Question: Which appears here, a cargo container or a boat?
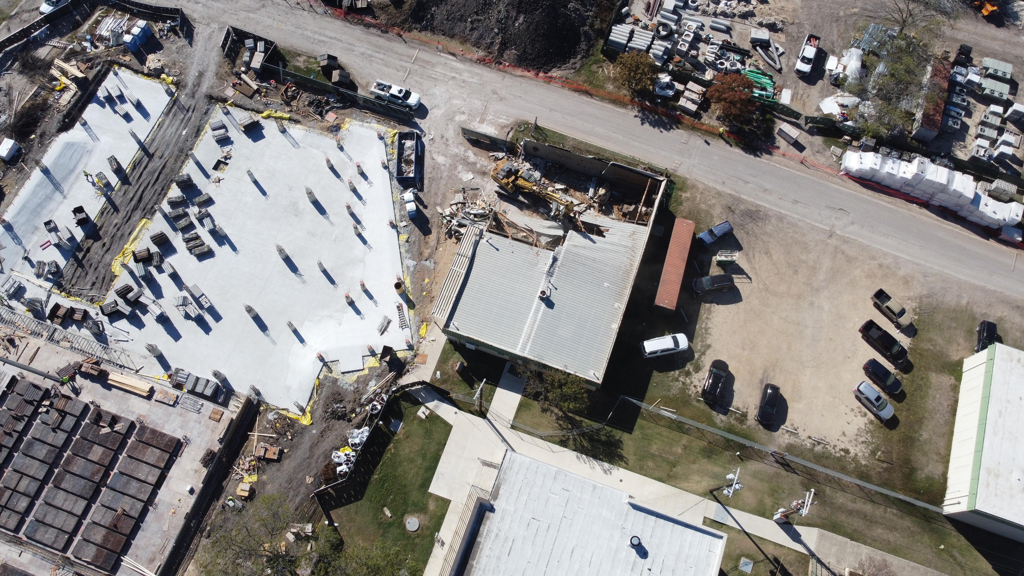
cargo container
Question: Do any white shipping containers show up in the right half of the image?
No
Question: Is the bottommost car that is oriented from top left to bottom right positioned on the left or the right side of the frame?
right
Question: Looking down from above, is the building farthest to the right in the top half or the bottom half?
bottom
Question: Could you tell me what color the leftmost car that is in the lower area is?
white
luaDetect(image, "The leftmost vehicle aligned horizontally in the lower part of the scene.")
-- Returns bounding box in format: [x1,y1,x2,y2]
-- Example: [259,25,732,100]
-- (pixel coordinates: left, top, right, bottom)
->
[641,334,689,360]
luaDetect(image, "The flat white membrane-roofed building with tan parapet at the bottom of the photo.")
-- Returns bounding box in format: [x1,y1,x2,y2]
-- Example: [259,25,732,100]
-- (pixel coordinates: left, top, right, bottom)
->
[452,449,727,576]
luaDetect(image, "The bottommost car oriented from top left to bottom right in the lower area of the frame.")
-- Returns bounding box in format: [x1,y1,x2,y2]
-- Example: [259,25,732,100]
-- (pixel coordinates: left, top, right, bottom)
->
[853,382,894,420]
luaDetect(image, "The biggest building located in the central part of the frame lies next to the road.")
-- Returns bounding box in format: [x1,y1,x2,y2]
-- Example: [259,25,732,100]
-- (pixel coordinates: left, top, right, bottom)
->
[442,137,668,392]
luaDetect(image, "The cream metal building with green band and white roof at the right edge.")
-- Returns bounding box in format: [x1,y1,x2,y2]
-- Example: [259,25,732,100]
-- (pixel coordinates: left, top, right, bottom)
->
[942,342,1024,541]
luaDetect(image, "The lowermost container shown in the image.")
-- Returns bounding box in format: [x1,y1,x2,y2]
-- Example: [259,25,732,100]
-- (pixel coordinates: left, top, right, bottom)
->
[652,217,695,317]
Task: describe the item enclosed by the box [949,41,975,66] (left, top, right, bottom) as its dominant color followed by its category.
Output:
black work vehicle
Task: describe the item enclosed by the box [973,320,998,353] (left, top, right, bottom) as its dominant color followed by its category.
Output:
black car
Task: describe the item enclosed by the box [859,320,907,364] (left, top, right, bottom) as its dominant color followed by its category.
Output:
black truck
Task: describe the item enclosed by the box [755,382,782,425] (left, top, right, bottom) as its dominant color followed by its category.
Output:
black car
